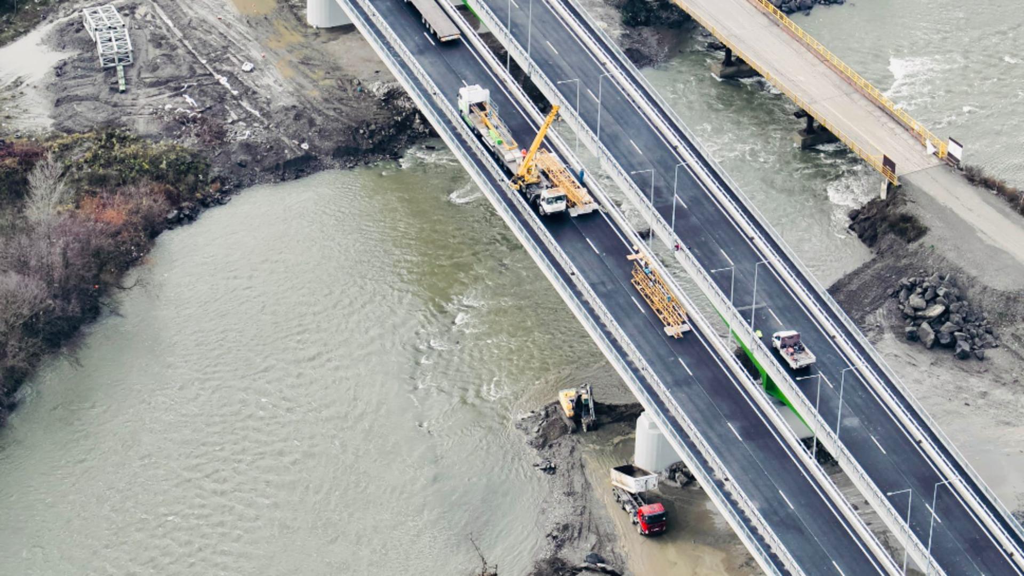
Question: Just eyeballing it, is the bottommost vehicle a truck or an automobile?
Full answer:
Specifically, the bottommost vehicle is a truck.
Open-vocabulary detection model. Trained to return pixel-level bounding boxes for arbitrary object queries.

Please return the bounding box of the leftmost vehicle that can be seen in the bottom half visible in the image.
[556,391,599,437]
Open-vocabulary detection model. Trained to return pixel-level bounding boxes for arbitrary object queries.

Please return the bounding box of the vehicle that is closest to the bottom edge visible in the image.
[613,466,669,535]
